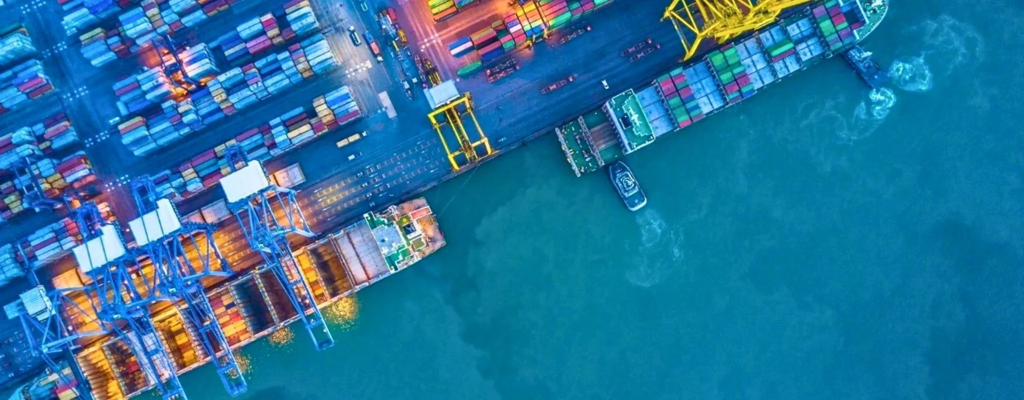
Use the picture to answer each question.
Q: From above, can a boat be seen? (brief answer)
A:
Yes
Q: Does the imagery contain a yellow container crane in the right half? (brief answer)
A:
Yes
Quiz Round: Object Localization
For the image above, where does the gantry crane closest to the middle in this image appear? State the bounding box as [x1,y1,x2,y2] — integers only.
[420,65,498,172]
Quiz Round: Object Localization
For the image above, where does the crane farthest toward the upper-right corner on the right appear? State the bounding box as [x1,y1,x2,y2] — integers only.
[728,0,829,42]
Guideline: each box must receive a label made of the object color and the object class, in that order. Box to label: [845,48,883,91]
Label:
blue boat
